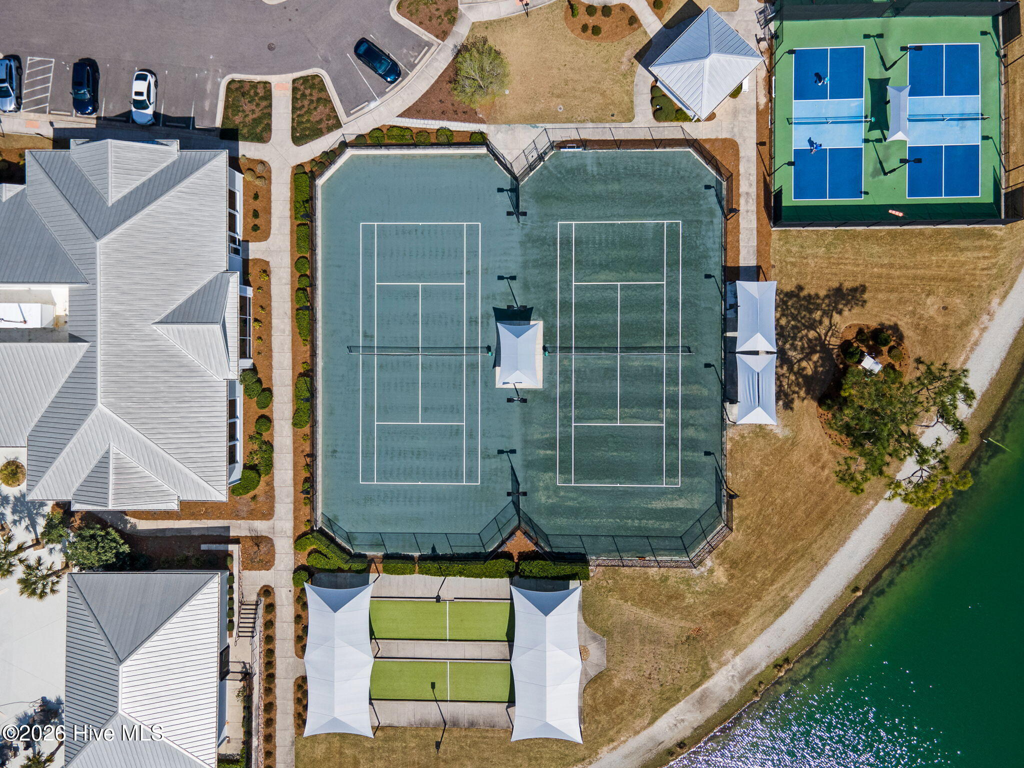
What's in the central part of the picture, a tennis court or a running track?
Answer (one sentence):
It is a tennis court that can be seen in the central part of the picture.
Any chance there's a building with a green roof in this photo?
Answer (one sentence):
No, there appears to be no building with a green roof in this shot.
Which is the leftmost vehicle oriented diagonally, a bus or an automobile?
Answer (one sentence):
Looking closely, the leftmost vehicle oriented diagonally is an automobile.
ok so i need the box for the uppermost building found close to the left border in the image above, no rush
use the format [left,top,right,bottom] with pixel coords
[0,138,255,511]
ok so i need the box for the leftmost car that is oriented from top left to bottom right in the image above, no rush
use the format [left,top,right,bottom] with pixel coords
[354,37,402,85]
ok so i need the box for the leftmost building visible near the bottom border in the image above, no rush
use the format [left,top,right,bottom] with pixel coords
[67,571,231,768]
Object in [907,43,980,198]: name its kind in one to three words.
sports court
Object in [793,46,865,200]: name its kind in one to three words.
sports court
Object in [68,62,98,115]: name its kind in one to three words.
car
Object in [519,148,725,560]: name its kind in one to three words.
tennis court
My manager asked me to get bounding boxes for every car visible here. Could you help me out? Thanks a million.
[0,58,19,113]
[354,37,402,85]
[127,71,156,125]
[68,62,98,115]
